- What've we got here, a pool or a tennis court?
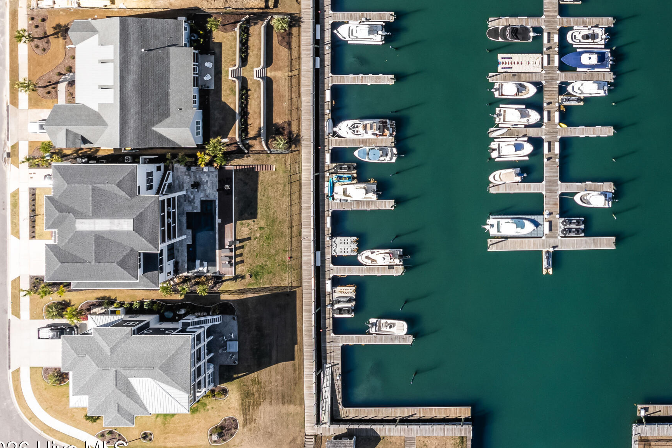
pool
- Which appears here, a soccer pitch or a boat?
boat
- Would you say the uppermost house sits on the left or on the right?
left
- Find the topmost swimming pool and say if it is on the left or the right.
left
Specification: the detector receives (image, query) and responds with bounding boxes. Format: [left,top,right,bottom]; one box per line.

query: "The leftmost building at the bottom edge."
[60,310,227,428]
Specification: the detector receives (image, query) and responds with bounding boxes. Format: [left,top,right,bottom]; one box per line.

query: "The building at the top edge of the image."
[43,17,204,148]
